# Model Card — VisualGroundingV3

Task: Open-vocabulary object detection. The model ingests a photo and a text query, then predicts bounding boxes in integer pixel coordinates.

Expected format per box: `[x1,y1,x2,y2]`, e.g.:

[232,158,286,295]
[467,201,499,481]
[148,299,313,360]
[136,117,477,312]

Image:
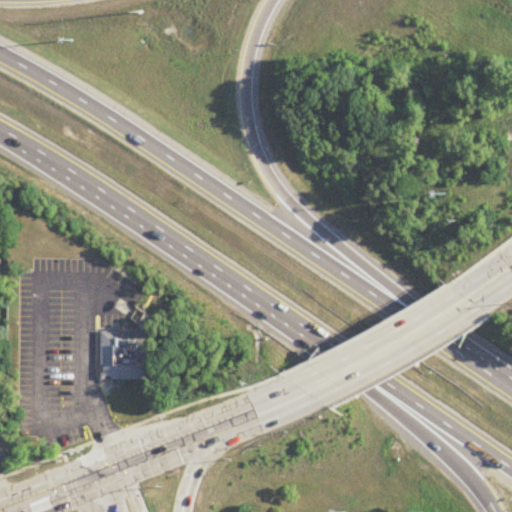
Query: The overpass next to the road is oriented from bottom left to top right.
[248,241,512,436]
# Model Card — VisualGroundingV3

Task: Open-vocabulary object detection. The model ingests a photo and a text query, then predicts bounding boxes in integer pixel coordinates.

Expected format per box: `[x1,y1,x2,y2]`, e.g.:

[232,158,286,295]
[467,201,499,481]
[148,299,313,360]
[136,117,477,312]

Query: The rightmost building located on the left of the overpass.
[100,330,146,383]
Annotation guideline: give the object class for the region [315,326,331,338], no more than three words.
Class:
vehicle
